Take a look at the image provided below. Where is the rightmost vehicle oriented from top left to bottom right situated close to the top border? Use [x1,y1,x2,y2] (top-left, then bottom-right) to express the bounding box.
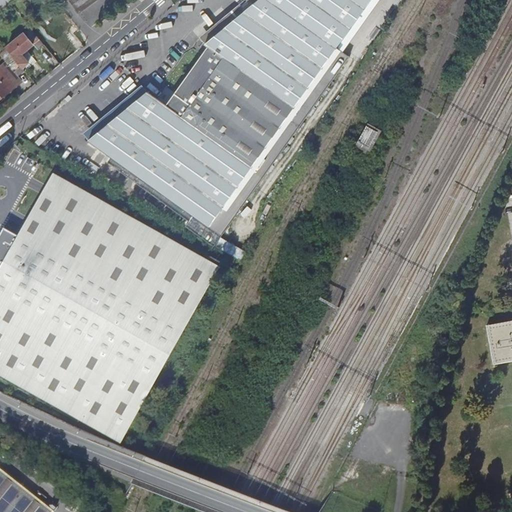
[200,10,214,26]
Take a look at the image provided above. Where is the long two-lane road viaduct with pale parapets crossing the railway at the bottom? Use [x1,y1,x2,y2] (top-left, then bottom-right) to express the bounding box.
[0,394,288,512]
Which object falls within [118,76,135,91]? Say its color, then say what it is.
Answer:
white vehicle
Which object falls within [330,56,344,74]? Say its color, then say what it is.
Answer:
white vehicle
